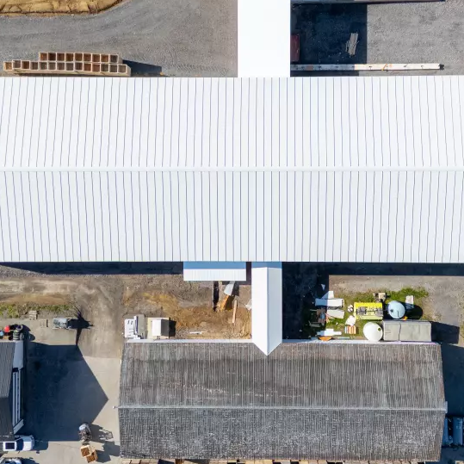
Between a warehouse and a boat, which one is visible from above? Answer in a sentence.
I can see a warehouse in this picture.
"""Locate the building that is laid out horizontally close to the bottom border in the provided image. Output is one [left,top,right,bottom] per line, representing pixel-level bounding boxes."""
[119,339,448,461]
